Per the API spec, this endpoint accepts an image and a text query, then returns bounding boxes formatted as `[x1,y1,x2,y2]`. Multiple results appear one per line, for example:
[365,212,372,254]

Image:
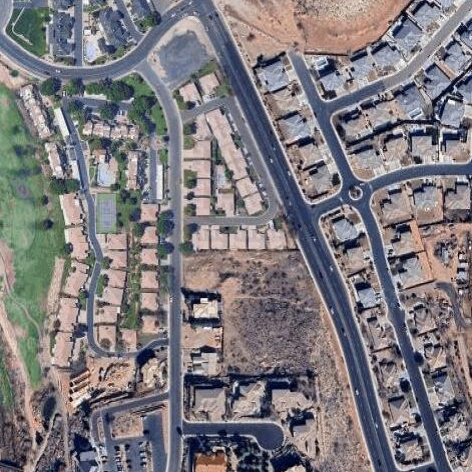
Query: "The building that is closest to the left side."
[19,84,52,140]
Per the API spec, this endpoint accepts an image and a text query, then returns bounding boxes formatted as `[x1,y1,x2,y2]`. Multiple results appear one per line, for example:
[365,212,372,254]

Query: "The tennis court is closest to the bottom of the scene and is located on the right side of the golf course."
[97,191,117,234]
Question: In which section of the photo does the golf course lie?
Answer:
left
